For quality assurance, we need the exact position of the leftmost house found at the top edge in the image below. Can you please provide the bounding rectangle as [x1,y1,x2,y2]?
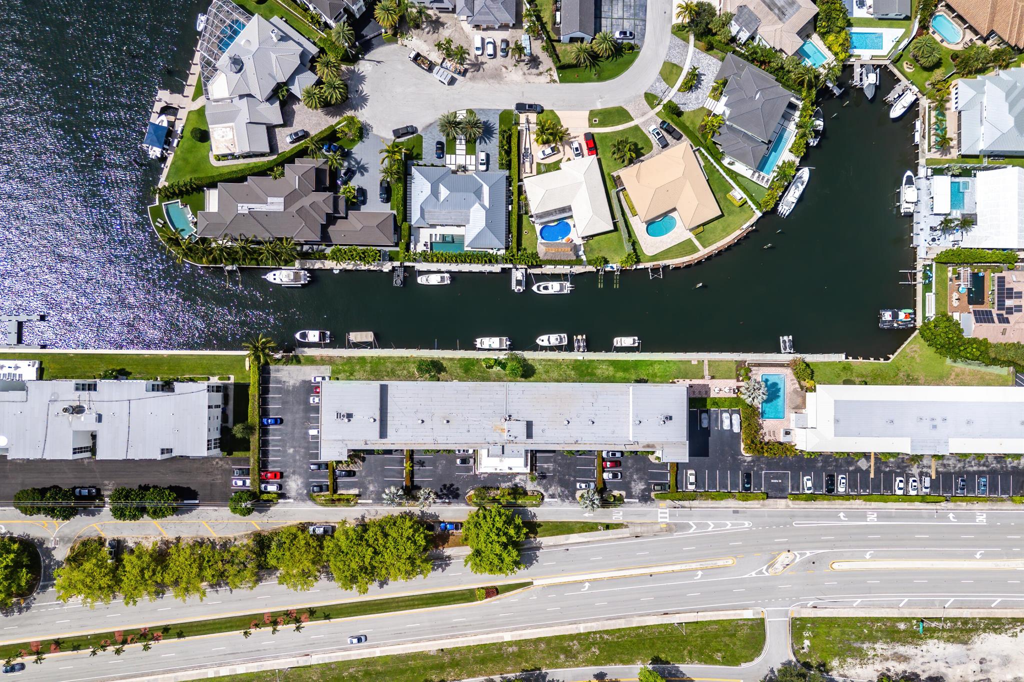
[203,13,320,157]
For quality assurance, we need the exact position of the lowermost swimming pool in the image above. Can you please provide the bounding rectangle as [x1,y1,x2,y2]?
[761,373,786,420]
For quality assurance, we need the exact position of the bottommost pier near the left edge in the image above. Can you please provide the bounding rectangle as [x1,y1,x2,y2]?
[0,314,41,348]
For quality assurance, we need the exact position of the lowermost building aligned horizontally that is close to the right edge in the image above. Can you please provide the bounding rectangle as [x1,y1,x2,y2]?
[779,384,1024,455]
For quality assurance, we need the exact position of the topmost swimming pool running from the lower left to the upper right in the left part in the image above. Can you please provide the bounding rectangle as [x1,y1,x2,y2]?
[216,18,248,53]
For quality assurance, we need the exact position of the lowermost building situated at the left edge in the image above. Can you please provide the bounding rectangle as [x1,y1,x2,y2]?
[0,380,222,460]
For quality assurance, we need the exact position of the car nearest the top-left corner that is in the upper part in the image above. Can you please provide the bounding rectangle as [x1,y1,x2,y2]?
[286,129,306,142]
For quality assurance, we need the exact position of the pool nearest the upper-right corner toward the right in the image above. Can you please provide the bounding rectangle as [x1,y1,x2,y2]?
[930,13,964,45]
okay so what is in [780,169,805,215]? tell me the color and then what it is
white boat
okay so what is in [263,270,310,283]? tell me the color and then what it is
white boat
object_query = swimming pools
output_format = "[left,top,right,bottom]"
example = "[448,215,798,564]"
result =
[162,199,197,237]
[930,13,964,45]
[761,373,786,420]
[797,39,829,68]
[216,18,248,53]
[645,214,677,238]
[850,31,884,50]
[970,272,984,304]
[429,233,466,254]
[951,180,966,211]
[756,126,795,177]
[539,220,572,243]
